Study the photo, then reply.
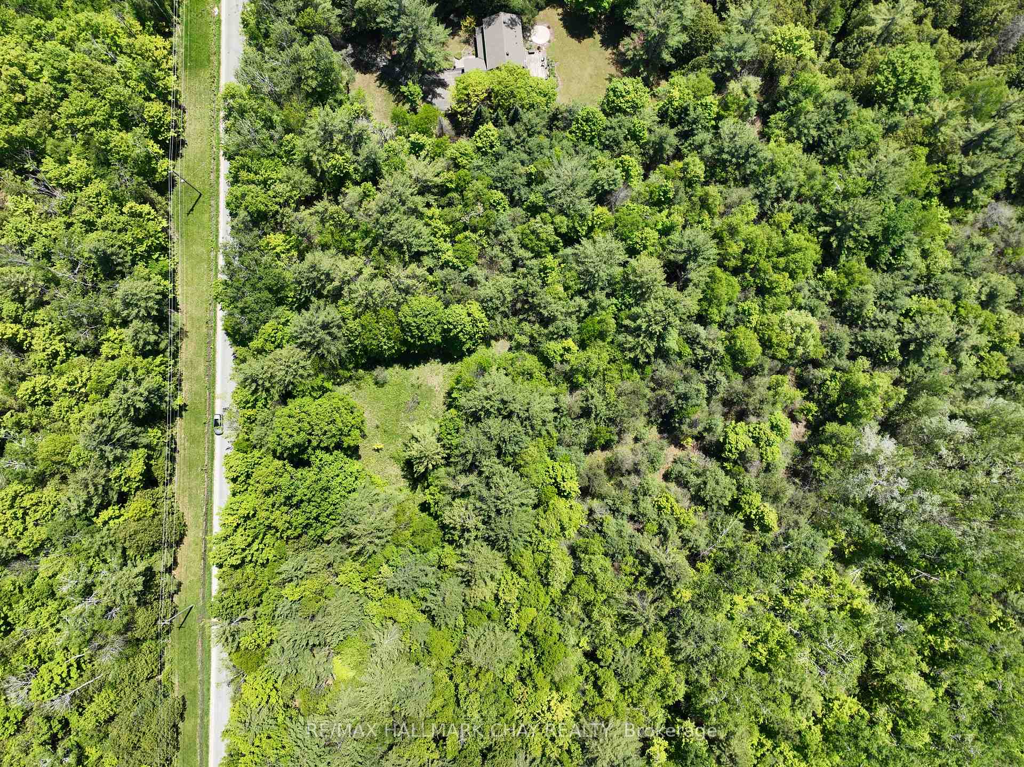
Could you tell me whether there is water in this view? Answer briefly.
No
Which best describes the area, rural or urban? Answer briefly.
rural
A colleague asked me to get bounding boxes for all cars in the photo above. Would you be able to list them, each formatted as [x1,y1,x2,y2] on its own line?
[212,414,224,436]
